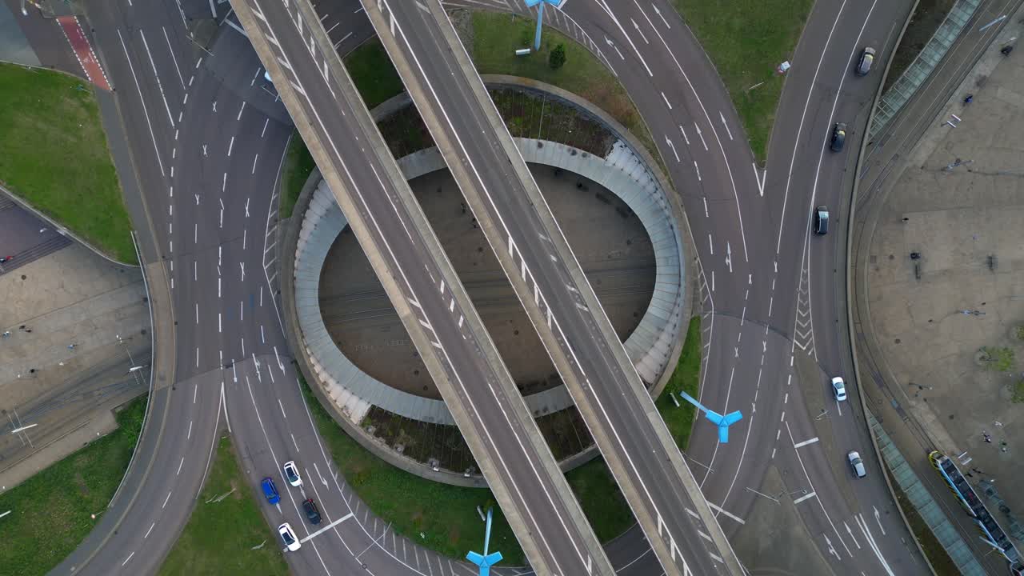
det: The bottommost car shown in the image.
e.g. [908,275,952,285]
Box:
[277,523,300,551]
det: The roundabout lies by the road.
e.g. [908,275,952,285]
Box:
[128,0,896,576]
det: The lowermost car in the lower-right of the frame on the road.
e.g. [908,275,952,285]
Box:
[847,451,867,479]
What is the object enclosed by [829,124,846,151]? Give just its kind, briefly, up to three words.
car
